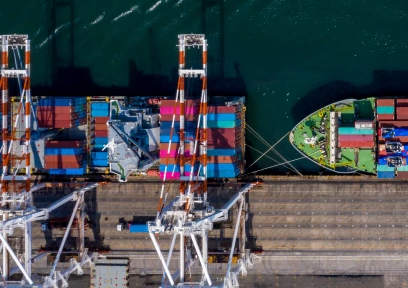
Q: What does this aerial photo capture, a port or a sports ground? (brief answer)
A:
port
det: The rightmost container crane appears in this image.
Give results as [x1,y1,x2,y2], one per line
[147,31,263,288]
